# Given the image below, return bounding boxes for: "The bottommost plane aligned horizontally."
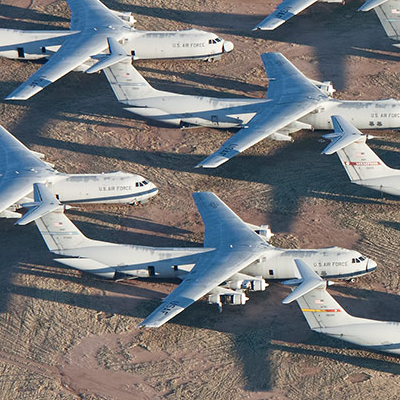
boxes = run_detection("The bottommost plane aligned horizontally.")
[17,184,377,328]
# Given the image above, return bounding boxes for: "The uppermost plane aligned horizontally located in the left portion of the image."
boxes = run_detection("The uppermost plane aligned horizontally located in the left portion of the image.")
[0,0,233,102]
